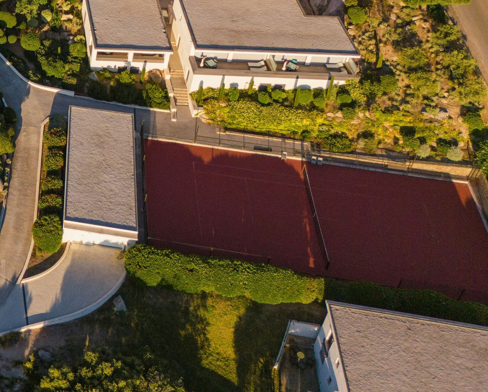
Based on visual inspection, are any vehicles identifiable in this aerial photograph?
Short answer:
No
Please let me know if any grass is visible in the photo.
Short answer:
Yes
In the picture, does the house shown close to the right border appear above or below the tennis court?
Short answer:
below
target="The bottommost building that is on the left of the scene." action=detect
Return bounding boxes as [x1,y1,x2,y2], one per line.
[61,105,139,257]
